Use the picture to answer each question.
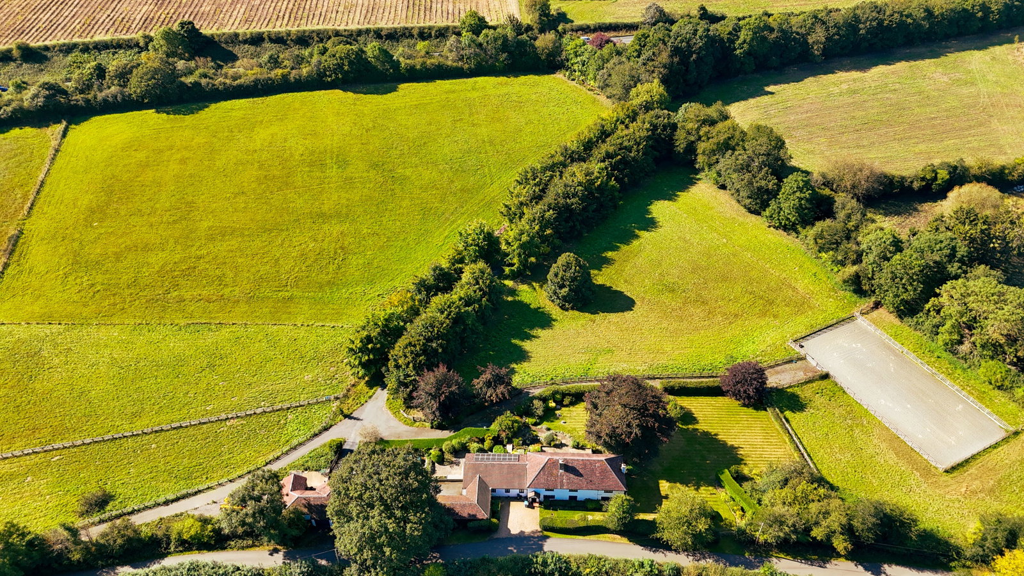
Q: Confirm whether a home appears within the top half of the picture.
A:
No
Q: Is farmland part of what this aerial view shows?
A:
Yes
